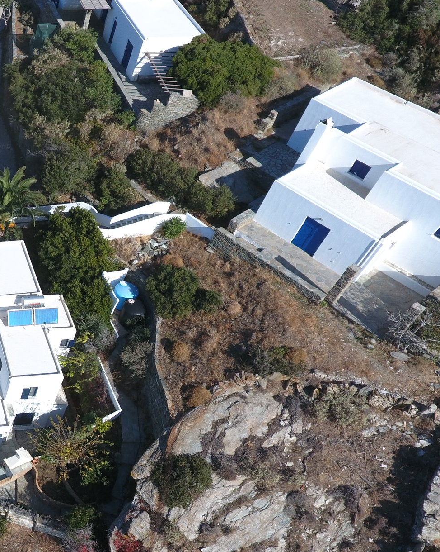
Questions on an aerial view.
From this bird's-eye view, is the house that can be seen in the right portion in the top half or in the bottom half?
top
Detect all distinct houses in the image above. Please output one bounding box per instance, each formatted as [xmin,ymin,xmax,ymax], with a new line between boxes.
[53,0,205,81]
[0,241,78,445]
[256,77,440,285]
